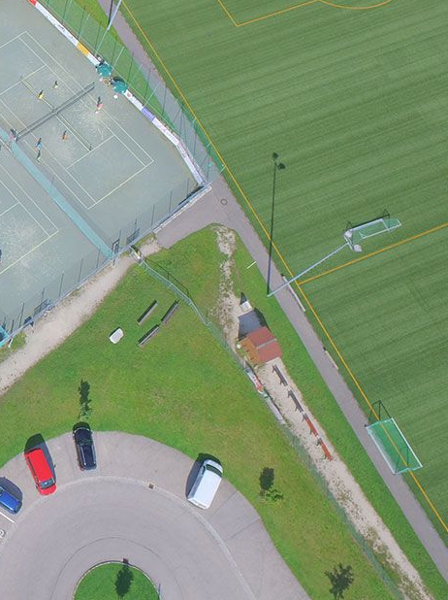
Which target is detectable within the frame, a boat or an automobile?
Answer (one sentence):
It is an automobile that can be seen here.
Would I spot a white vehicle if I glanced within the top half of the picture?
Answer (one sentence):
No, no white vehicle appears within the top half of the picture.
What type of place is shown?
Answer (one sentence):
It's a sports ground.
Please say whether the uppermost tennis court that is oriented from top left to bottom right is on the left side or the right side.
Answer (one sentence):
You can find the uppermost tennis court that is oriented from top left to bottom right on the left side of the picture.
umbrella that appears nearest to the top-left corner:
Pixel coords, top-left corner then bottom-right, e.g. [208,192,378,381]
[96,64,111,81]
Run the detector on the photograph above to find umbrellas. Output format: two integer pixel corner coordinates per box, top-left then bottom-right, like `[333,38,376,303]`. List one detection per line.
[96,64,111,81]
[111,79,128,96]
